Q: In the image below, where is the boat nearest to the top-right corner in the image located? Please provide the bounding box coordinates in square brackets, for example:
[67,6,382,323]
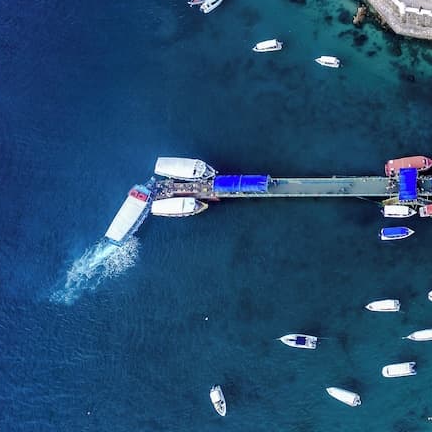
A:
[316,55,344,68]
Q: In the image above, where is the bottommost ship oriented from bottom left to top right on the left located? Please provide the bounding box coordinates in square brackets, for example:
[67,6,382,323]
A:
[107,184,161,250]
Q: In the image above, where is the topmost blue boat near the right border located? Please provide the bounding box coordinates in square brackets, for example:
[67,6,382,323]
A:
[379,227,414,240]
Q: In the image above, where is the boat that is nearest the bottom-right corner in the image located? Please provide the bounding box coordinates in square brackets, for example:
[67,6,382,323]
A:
[382,363,418,377]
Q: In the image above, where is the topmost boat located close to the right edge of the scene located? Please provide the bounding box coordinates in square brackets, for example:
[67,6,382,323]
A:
[385,154,432,176]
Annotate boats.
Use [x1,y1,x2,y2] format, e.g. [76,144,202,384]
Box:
[366,299,403,313]
[418,203,432,217]
[404,328,432,341]
[385,154,432,176]
[275,335,320,350]
[316,55,344,68]
[327,388,364,408]
[150,155,218,180]
[380,203,417,217]
[148,195,209,216]
[382,363,418,377]
[200,0,224,14]
[253,37,283,51]
[209,382,225,416]
[379,227,414,240]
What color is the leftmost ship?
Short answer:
white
